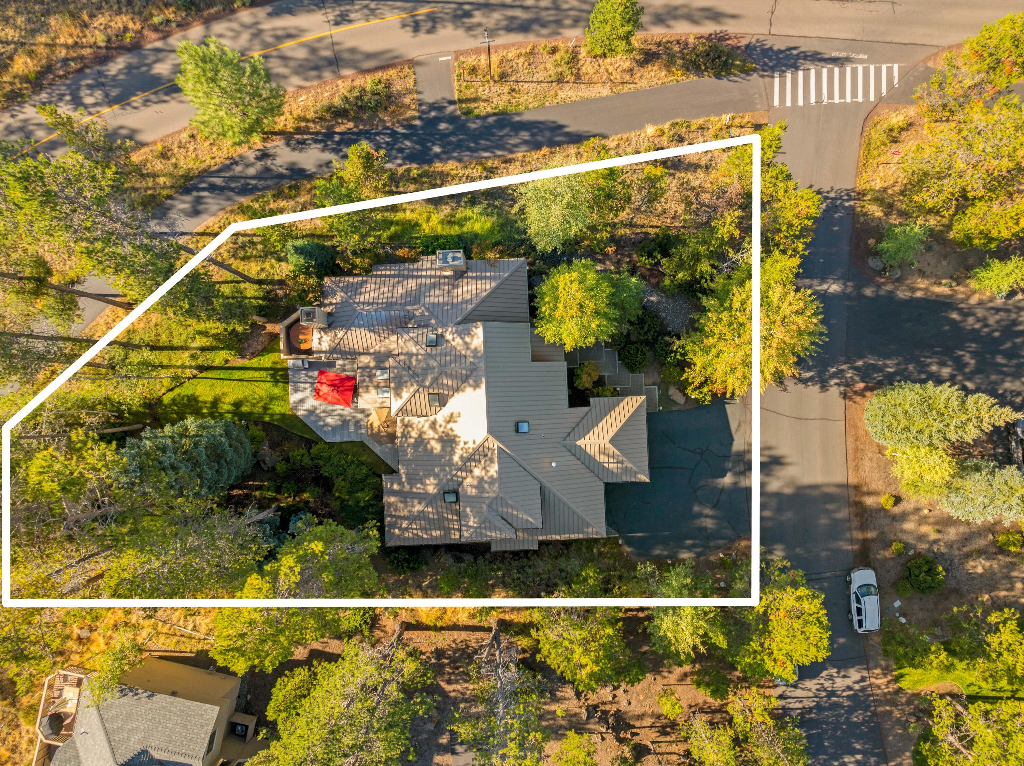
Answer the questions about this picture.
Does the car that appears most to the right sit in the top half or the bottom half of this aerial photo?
bottom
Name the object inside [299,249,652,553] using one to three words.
house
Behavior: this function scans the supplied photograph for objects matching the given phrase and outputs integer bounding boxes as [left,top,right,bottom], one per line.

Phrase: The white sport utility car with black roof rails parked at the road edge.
[848,567,884,636]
